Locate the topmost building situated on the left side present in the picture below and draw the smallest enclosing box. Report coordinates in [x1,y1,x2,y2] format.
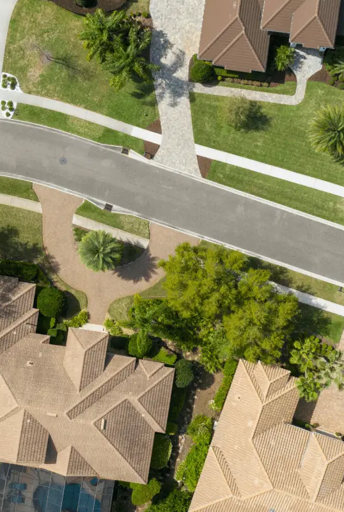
[0,275,175,486]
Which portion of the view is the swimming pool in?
bottom left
